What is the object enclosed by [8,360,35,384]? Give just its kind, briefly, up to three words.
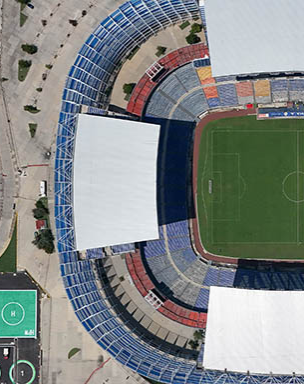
helipad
